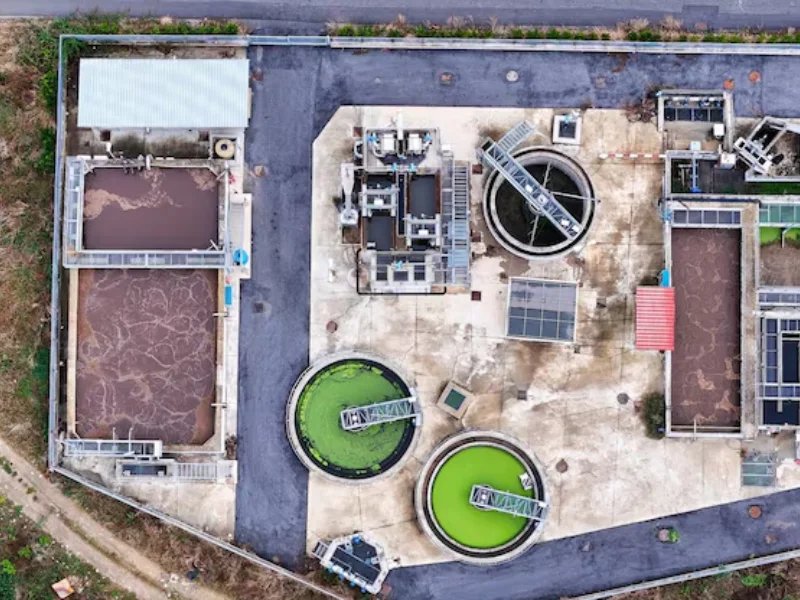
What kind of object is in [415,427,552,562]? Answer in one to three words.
storage tank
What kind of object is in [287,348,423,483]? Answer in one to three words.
storage tank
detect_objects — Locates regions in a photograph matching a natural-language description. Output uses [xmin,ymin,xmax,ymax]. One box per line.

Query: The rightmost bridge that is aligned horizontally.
[469,485,552,525]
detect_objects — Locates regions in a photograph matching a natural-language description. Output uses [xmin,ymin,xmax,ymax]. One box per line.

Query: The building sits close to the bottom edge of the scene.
[311,529,388,593]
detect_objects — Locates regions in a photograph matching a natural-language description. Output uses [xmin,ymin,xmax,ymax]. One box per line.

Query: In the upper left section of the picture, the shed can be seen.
[77,58,253,135]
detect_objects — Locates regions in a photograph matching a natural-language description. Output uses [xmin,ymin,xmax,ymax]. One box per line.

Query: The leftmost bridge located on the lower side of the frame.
[340,393,423,431]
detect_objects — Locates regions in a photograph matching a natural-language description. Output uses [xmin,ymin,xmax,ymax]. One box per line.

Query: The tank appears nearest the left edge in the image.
[212,136,239,162]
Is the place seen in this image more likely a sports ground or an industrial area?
industrial area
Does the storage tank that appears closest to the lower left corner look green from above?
Yes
